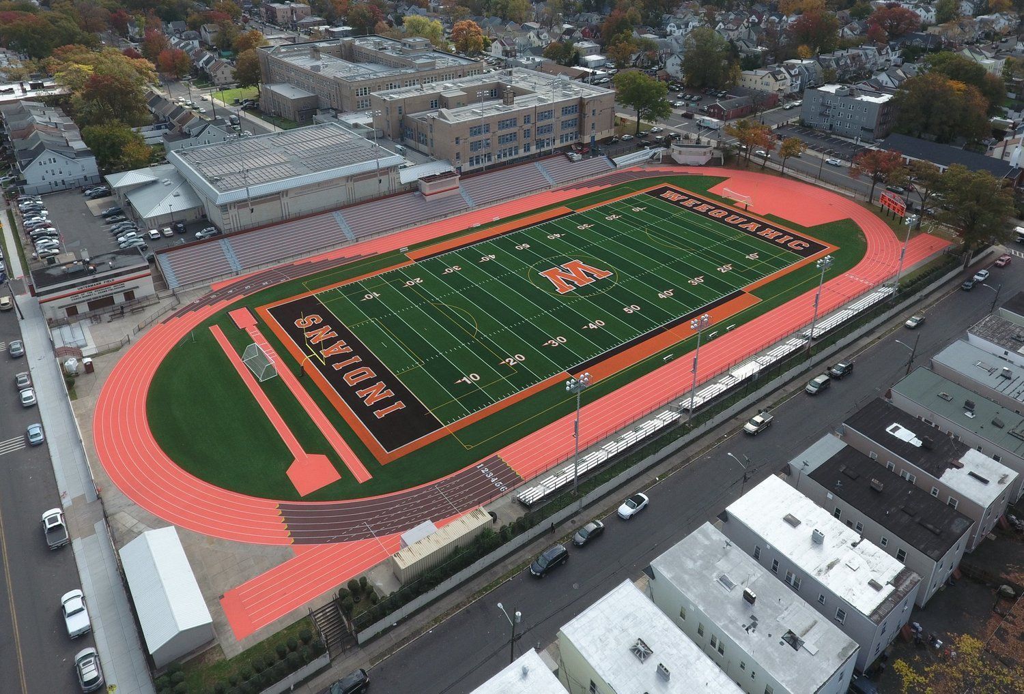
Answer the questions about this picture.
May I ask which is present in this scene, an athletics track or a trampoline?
athletics track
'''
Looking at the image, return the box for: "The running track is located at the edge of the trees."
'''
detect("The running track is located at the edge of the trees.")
[96,167,949,642]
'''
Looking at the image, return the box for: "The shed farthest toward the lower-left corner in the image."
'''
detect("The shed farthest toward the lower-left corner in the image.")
[121,529,242,694]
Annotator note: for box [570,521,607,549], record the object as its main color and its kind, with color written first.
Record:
gray car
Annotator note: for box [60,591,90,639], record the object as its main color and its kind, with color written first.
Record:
white truck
